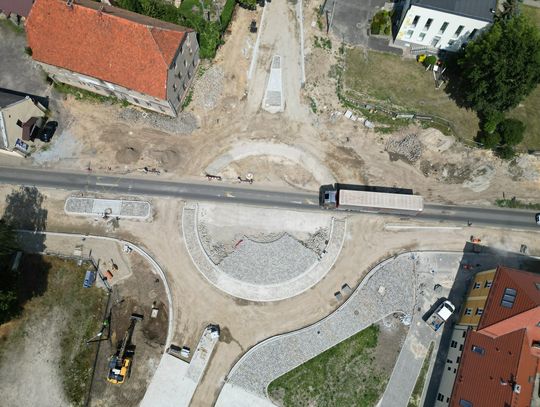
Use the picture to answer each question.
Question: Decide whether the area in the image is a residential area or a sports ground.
residential area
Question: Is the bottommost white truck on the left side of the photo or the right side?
right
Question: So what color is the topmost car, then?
black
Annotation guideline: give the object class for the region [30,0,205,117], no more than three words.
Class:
house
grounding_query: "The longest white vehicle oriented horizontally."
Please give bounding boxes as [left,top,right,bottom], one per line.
[321,190,424,215]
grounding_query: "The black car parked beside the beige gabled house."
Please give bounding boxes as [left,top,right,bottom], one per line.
[40,120,61,142]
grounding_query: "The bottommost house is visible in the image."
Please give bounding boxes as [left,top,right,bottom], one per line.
[431,265,540,407]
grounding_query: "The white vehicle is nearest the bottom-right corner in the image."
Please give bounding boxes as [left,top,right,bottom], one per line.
[426,299,458,332]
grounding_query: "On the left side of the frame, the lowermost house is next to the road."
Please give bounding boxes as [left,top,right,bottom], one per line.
[0,92,46,157]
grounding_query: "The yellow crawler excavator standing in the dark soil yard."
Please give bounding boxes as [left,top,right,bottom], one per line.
[104,316,140,388]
